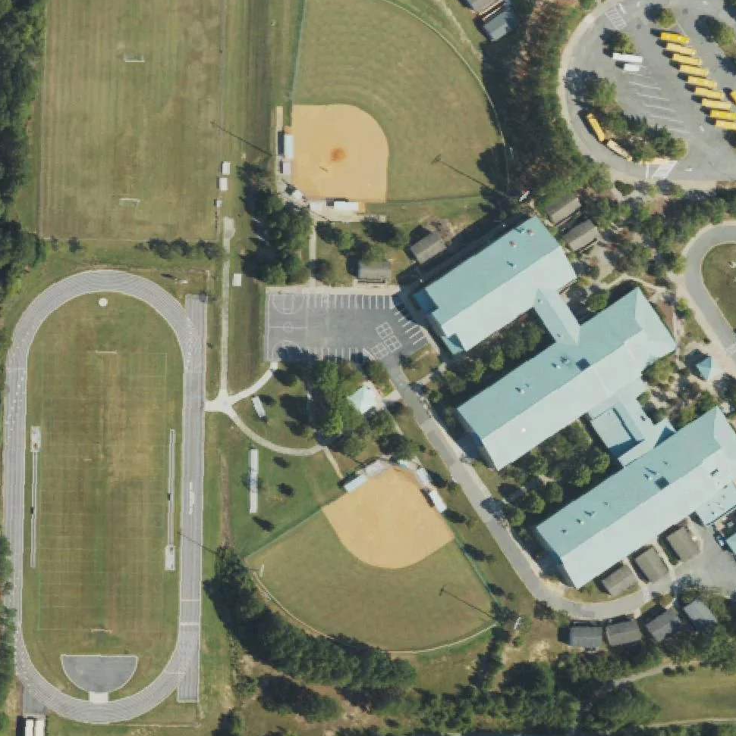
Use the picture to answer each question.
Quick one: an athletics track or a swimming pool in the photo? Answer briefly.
athletics track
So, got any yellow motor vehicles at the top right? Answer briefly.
Yes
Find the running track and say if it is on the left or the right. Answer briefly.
left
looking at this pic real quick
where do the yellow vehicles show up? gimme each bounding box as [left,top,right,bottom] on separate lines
[699,97,730,108]
[728,88,736,104]
[671,53,702,64]
[709,109,736,120]
[693,87,723,98]
[713,120,736,129]
[665,43,695,53]
[685,76,716,87]
[658,32,689,43]
[677,64,708,75]
[584,113,603,141]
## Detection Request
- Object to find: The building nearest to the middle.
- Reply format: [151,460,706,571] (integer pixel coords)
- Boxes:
[350,382,382,412]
